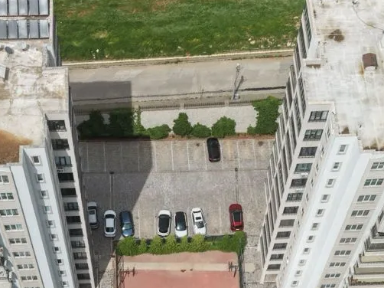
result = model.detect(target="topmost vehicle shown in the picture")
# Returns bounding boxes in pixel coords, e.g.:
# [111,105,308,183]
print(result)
[207,135,221,163]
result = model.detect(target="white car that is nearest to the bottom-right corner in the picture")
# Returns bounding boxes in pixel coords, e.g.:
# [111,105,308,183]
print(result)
[191,207,207,234]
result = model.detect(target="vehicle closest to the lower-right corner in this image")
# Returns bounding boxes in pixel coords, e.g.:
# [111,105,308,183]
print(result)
[230,203,244,232]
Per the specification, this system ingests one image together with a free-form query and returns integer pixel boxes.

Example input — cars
[120,209,134,238]
[191,207,207,234]
[157,209,171,237]
[89,201,100,229]
[207,135,221,163]
[103,209,117,237]
[175,210,189,235]
[230,203,244,232]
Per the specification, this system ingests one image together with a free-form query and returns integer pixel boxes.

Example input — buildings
[257,0,384,288]
[0,0,96,288]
